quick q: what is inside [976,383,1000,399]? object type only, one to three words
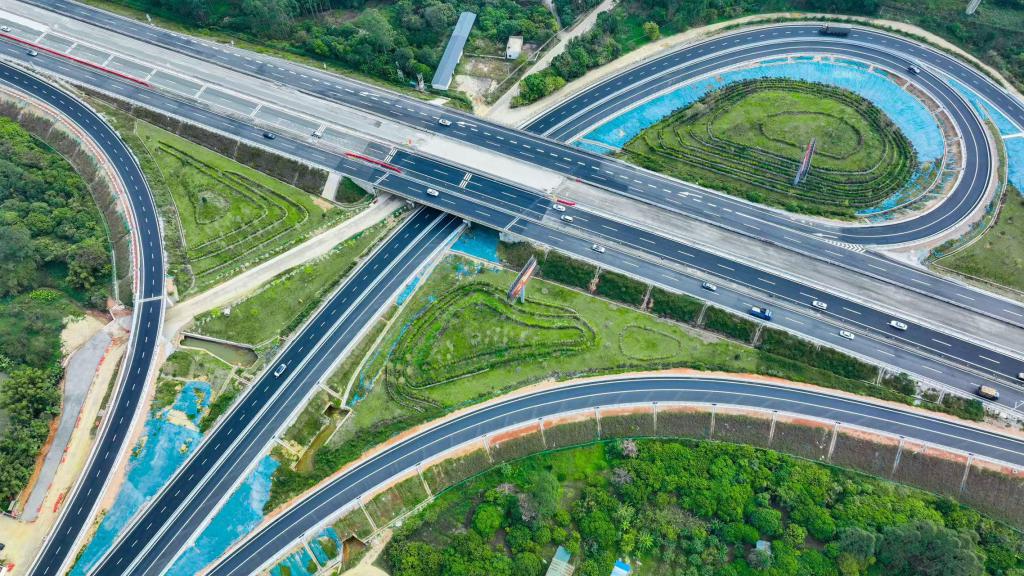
vehicle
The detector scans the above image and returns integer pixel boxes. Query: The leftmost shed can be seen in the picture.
[432,12,476,94]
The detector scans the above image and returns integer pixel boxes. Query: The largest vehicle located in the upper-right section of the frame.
[817,25,852,37]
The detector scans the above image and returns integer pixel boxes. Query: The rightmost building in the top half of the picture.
[507,35,523,58]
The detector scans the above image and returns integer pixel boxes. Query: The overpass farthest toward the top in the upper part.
[355,94,633,265]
